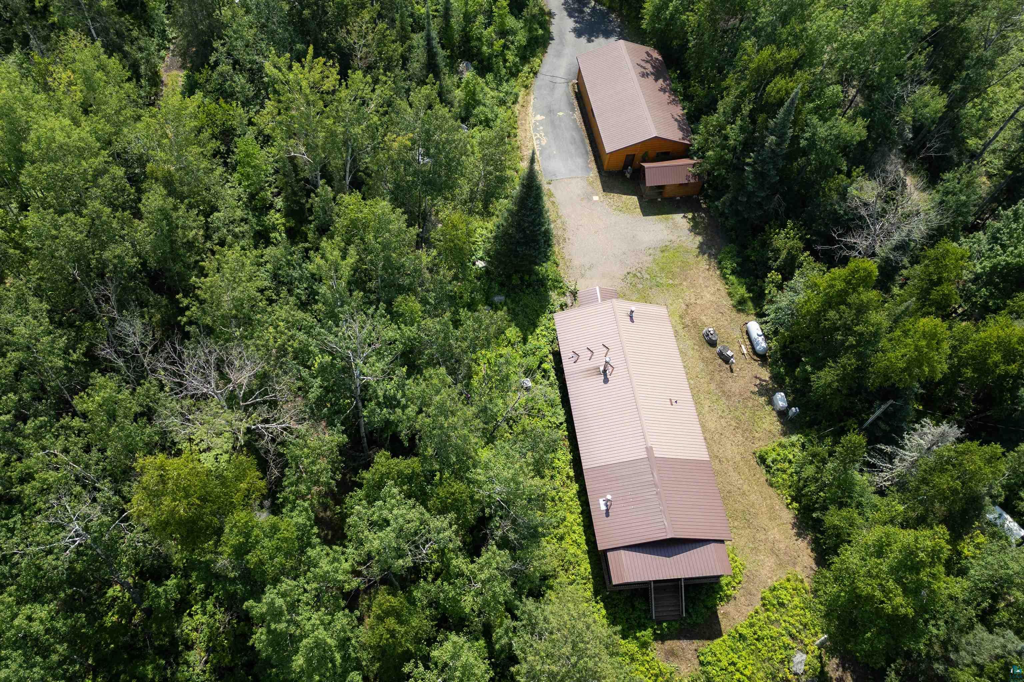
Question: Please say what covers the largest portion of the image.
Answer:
trees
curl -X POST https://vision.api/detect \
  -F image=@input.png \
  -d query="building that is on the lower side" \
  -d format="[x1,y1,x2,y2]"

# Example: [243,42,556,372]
[555,285,732,628]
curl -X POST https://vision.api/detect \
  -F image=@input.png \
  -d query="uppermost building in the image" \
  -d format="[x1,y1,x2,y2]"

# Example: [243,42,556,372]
[579,40,693,171]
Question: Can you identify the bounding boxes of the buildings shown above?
[579,40,693,171]
[555,285,732,628]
